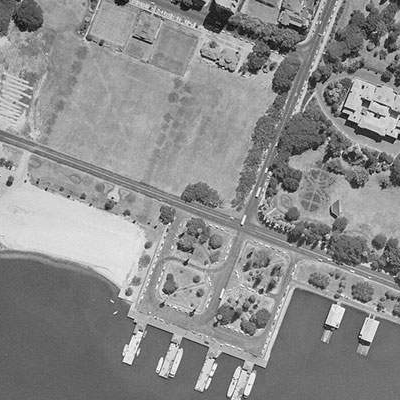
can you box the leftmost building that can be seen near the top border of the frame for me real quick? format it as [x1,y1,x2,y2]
[134,12,159,42]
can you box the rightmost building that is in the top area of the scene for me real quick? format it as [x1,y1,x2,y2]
[341,79,400,140]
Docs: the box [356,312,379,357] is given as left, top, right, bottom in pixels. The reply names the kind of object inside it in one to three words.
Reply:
building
